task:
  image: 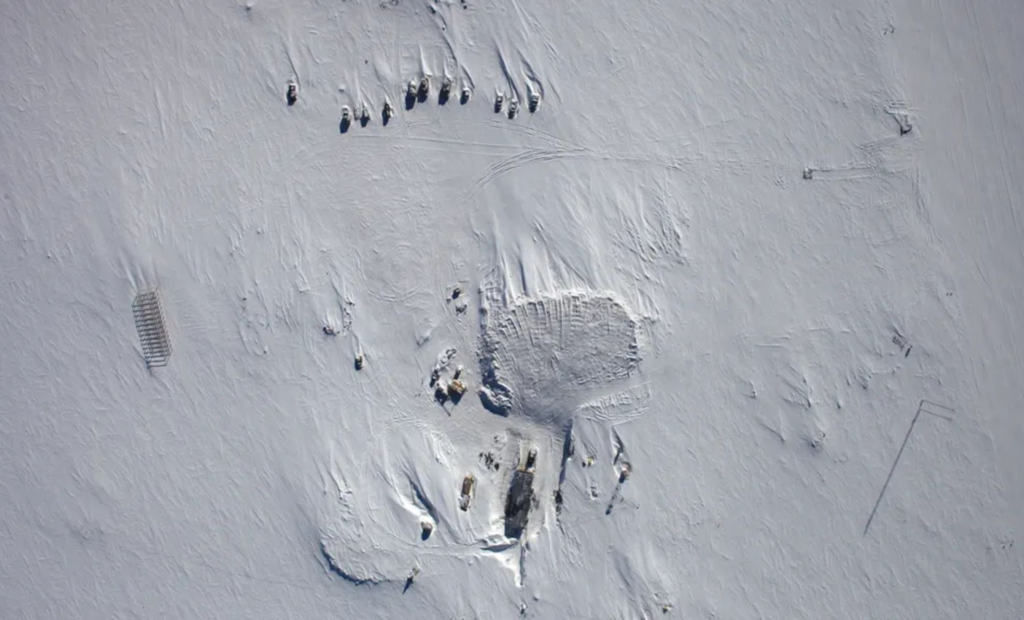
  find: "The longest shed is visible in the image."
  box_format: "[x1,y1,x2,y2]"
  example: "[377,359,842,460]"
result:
[508,471,535,527]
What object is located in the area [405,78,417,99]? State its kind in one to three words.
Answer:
vehicle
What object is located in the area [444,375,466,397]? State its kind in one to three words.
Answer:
work vehicle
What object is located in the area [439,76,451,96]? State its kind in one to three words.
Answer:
vehicle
